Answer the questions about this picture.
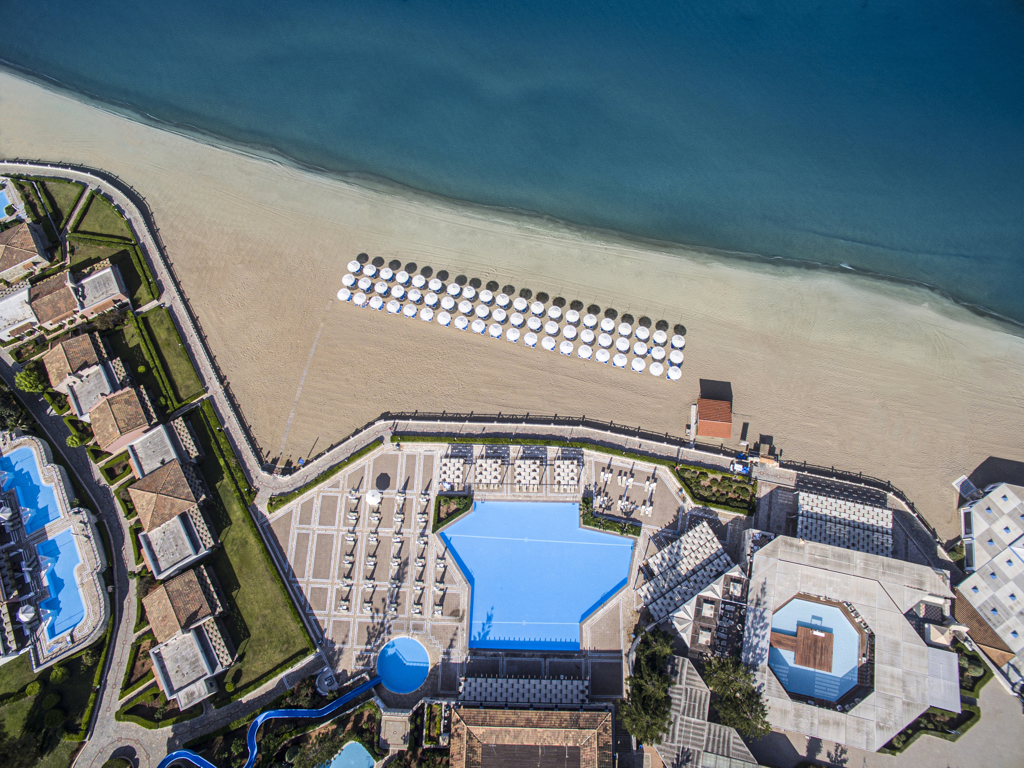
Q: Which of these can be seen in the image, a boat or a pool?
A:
pool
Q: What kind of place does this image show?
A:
beach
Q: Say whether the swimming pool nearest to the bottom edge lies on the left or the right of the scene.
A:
left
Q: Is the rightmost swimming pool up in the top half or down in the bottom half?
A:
bottom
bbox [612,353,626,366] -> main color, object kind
white umbrella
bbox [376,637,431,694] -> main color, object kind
blue swimming pool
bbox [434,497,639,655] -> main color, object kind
blue swimming pool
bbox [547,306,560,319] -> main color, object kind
white umbrella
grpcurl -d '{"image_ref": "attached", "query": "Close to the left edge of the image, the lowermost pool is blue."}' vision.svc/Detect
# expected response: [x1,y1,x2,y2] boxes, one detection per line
[34,525,87,644]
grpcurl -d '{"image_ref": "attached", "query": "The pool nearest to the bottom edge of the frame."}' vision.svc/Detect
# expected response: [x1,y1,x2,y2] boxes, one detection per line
[327,738,378,768]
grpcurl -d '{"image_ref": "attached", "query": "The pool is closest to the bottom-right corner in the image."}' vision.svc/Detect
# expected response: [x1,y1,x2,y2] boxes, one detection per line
[768,599,858,703]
